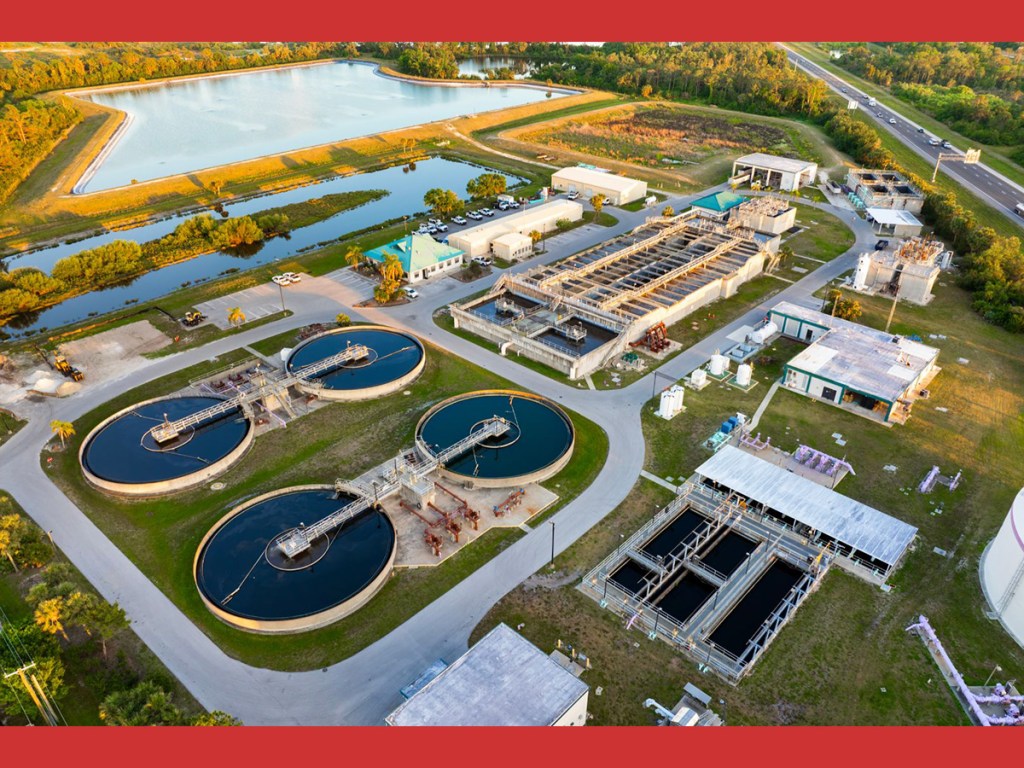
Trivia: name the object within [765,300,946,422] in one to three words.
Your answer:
building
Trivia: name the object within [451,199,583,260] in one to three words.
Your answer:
building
